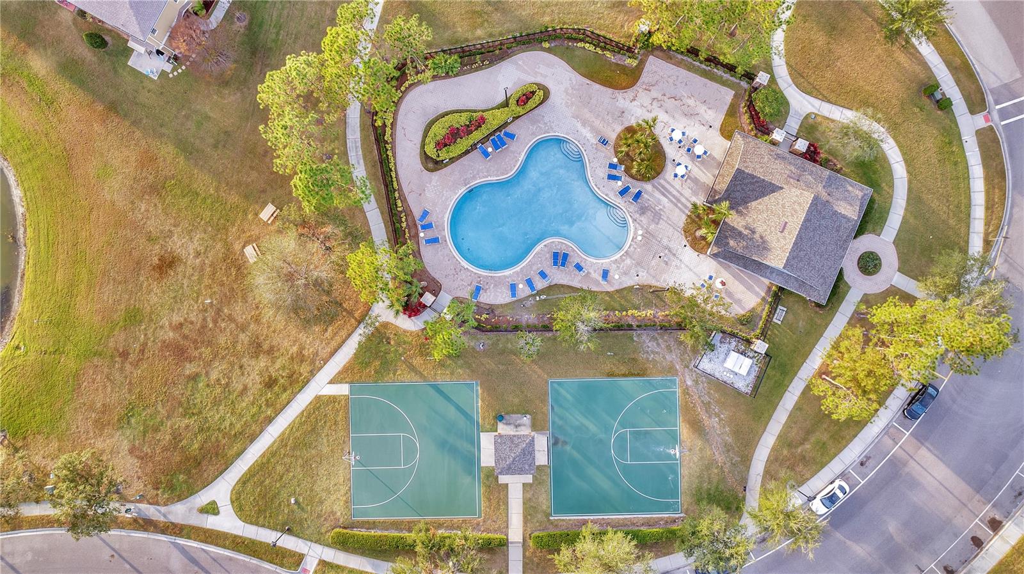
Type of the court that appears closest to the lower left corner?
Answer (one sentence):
In the photo, the court that appears closest to the lower left corner shows up as a basketball court.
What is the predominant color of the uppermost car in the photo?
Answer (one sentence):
The color of the uppermost car is blue.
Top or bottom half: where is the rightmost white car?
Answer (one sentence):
The rightmost white car is in the bottom half of the image.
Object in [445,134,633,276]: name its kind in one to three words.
swimming pool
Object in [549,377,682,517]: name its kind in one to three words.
basketball court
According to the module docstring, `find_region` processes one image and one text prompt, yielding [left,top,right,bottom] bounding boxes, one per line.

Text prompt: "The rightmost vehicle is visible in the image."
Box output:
[905,380,942,422]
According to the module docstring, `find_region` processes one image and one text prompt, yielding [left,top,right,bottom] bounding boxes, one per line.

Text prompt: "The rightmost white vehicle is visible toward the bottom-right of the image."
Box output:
[811,479,852,517]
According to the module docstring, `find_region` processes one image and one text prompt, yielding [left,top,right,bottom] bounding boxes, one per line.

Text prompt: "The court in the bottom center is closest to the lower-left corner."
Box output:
[349,382,482,520]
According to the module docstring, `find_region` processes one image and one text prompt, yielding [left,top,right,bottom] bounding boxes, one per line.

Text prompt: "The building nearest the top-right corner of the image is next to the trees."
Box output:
[698,130,873,304]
